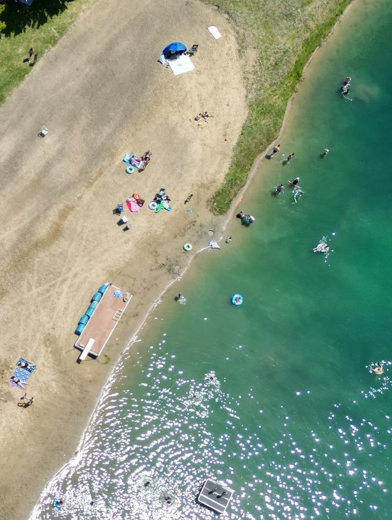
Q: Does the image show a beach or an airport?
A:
beach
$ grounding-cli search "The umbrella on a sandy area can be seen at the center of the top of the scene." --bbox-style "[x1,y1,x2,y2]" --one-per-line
[164,37,190,53]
